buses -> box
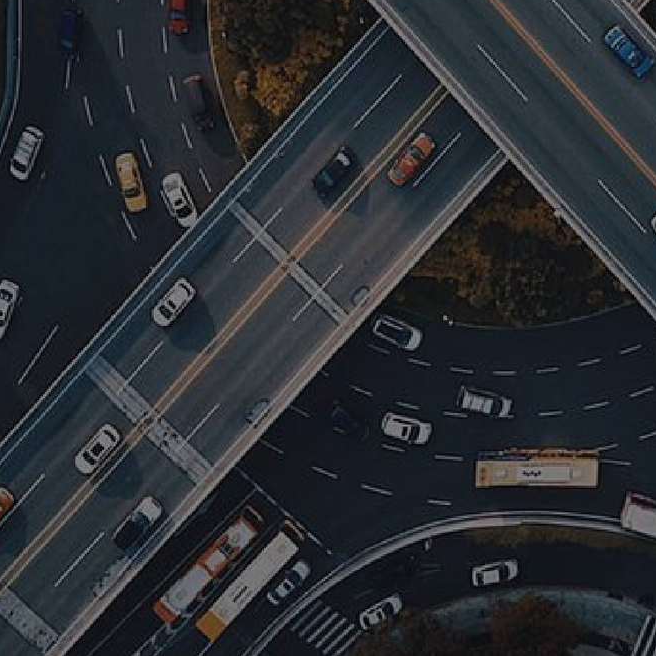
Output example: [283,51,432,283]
[476,452,602,488]
[154,505,267,622]
[195,523,306,642]
[617,494,656,539]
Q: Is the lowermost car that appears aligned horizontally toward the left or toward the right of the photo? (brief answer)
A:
right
